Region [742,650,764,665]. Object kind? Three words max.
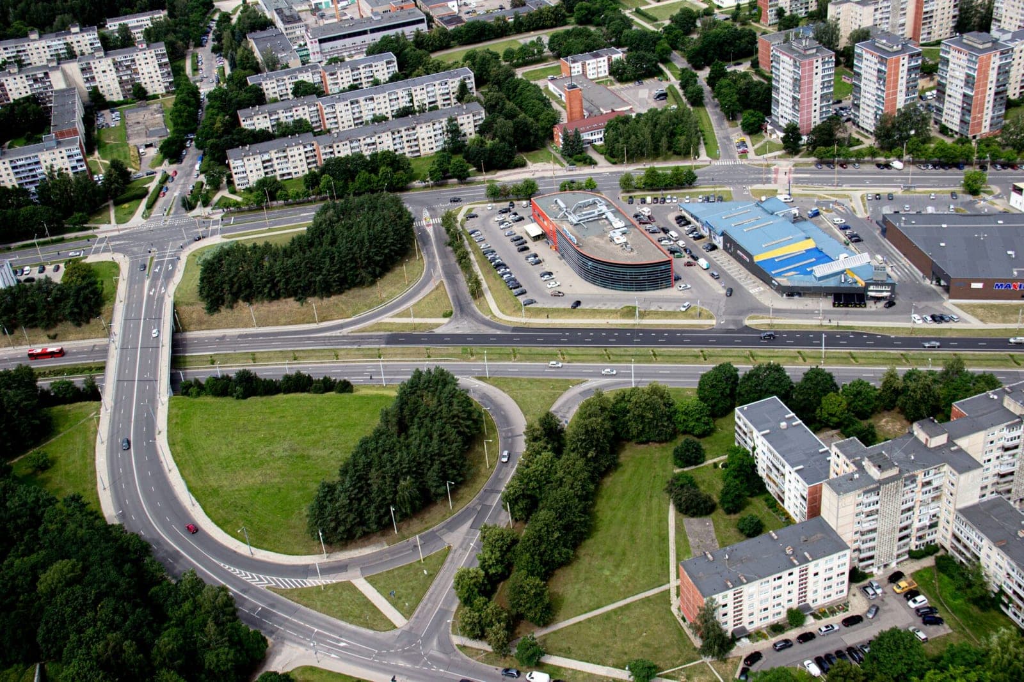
car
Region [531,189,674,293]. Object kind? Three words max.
building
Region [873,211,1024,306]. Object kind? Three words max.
building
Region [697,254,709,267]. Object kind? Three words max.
vehicle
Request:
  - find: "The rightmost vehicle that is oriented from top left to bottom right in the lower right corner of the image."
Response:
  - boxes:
[909,623,928,640]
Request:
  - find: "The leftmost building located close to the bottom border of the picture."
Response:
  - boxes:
[676,515,852,652]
